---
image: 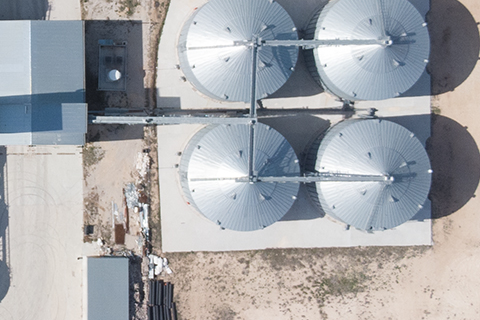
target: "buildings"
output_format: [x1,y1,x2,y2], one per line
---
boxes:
[80,254,129,320]
[0,19,87,146]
